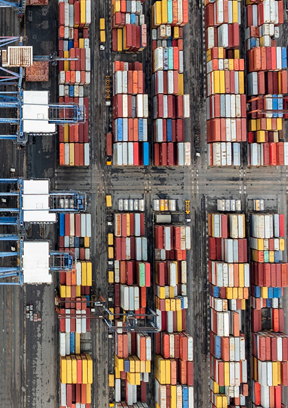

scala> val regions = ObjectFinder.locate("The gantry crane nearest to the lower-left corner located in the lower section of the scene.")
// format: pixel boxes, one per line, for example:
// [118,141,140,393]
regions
[55,292,108,320]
